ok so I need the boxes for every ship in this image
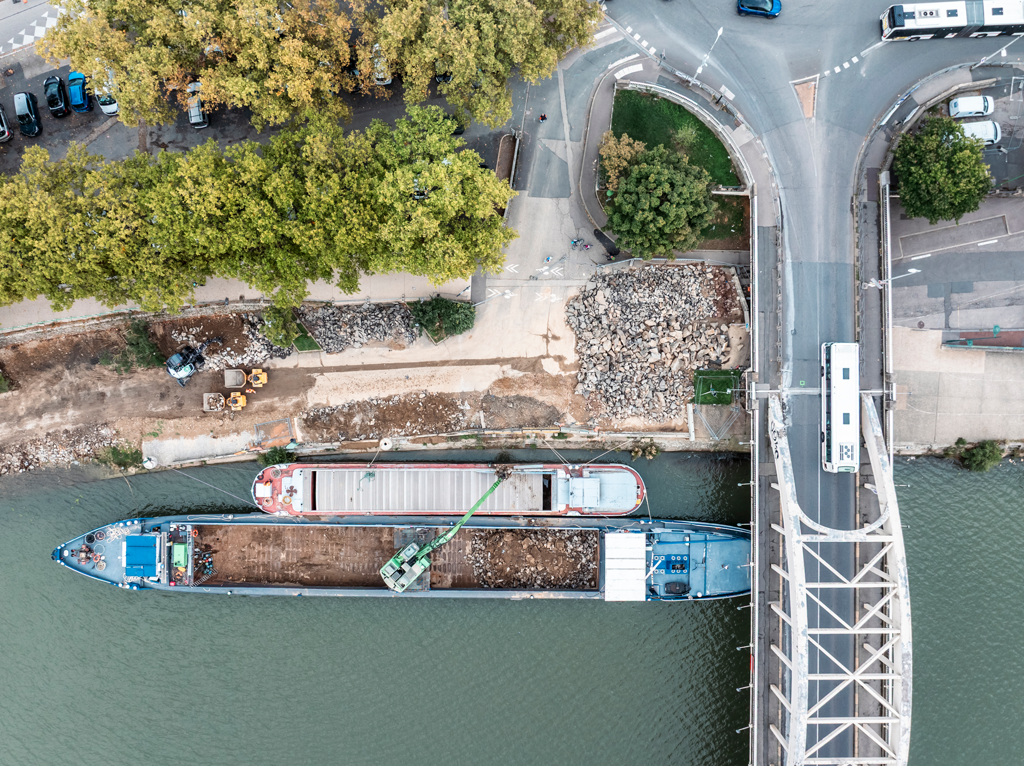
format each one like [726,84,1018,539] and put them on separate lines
[250,462,647,516]
[47,512,747,602]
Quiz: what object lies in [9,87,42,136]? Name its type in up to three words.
car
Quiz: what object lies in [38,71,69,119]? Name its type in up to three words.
car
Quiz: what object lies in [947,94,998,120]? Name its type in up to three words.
vehicle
